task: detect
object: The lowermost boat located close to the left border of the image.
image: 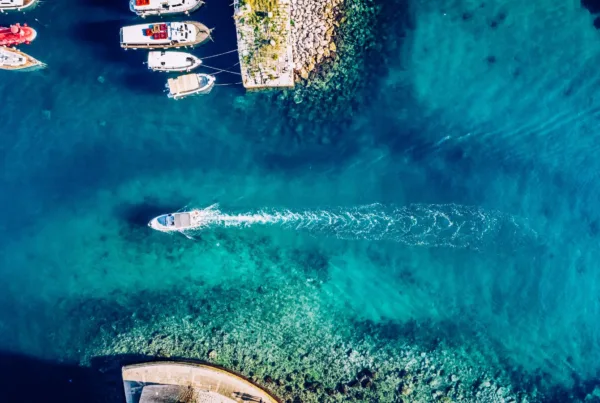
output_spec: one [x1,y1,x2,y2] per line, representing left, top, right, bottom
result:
[0,47,47,74]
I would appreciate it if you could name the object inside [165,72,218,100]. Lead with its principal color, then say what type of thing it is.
white boat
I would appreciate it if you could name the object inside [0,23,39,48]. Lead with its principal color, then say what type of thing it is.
red boat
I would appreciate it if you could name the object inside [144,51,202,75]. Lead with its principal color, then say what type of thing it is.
white boat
